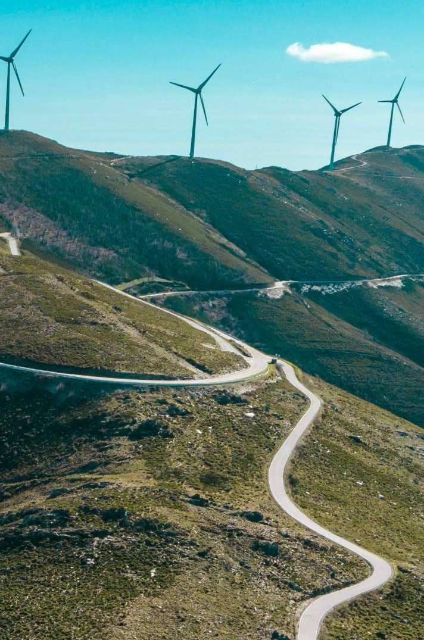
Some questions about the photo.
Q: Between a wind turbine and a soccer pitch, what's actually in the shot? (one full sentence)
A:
It is a wind turbine that can be seen here.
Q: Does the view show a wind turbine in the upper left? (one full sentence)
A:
Yes, a wind turbine shows up in the upper left.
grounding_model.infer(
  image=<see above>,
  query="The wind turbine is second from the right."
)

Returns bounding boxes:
[317,96,362,169]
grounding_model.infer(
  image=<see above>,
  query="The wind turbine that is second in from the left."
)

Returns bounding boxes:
[164,61,219,161]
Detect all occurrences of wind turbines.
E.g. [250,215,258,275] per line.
[317,96,362,169]
[164,61,219,161]
[0,23,30,132]
[370,76,404,146]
